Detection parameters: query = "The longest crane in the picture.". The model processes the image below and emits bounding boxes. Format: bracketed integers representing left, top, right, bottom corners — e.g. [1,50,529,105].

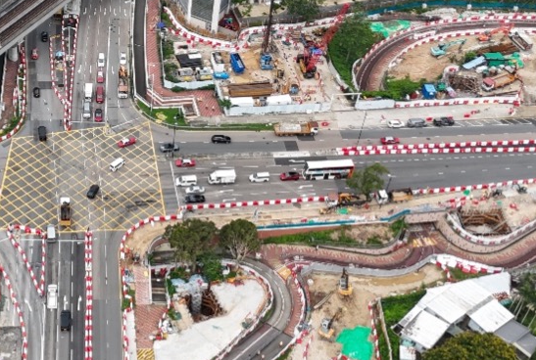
[299,18,345,72]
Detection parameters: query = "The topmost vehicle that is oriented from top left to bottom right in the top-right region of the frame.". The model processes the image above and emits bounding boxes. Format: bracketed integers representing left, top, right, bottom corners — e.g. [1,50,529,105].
[511,26,534,45]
